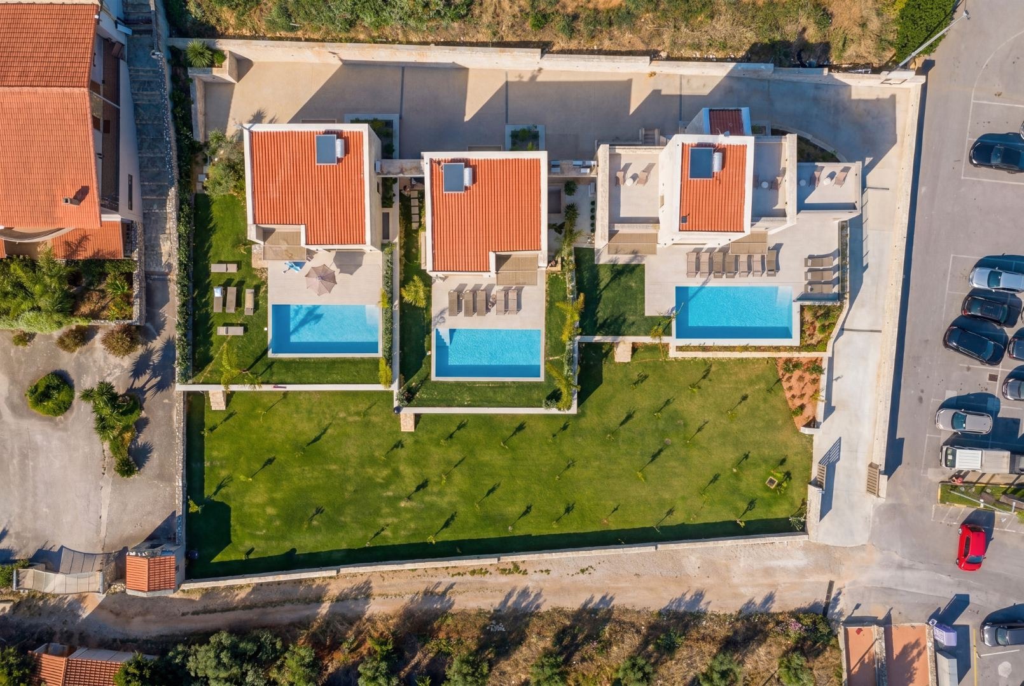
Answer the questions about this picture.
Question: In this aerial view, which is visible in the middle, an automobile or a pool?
pool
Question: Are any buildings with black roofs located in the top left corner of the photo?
No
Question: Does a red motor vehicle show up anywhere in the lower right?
Yes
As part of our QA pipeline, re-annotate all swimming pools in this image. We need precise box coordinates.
[270,303,381,355]
[434,327,543,380]
[674,284,794,340]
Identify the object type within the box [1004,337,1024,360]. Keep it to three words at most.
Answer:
car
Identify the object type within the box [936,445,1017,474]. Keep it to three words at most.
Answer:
vehicle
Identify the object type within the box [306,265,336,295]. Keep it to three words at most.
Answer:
umbrella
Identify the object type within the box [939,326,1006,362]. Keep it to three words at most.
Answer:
car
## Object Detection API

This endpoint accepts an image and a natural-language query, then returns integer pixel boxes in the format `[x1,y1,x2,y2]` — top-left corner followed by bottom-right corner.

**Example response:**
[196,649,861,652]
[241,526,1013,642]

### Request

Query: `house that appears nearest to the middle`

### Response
[422,151,547,279]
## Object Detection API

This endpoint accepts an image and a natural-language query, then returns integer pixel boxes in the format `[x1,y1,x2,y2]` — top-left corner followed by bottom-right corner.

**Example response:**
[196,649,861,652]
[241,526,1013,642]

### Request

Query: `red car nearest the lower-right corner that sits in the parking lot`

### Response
[956,524,986,569]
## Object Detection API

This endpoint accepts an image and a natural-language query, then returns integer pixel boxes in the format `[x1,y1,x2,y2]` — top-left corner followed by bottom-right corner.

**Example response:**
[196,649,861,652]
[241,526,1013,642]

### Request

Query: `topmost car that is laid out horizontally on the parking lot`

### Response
[965,142,1024,173]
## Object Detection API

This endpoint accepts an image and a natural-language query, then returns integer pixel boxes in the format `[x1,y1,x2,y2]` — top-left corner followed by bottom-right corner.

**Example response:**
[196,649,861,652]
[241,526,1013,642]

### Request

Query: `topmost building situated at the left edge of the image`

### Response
[0,0,146,258]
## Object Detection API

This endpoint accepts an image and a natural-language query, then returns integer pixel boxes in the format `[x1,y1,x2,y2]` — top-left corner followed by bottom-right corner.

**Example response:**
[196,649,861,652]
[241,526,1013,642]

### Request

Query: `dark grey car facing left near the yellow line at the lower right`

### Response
[976,619,1024,650]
